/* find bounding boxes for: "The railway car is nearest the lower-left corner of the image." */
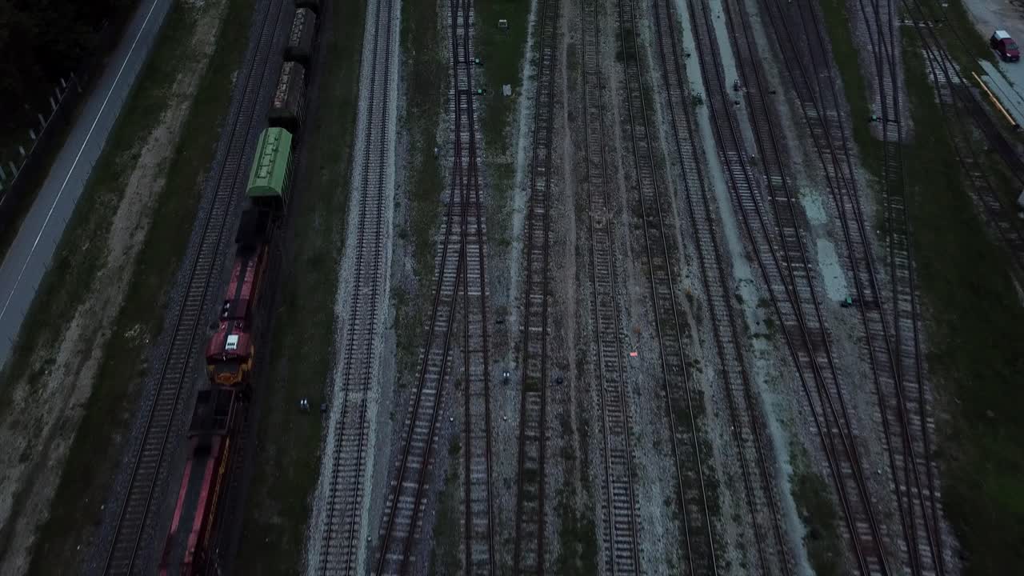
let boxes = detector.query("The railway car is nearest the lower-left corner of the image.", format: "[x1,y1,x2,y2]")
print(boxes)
[153,384,250,576]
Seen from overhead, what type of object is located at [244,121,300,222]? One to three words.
rail car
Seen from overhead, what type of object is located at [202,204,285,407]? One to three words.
rail car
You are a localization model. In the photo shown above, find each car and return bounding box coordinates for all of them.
[989,29,1020,63]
